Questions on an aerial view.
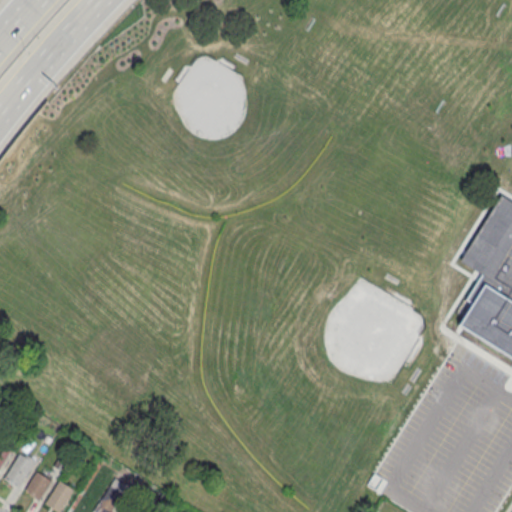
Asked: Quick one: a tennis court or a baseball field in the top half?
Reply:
baseball field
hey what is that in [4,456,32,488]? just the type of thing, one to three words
house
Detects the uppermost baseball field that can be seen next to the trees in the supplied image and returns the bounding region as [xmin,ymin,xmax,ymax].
[175,56,248,140]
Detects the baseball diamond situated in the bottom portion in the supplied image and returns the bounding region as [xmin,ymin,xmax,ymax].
[326,276,422,383]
